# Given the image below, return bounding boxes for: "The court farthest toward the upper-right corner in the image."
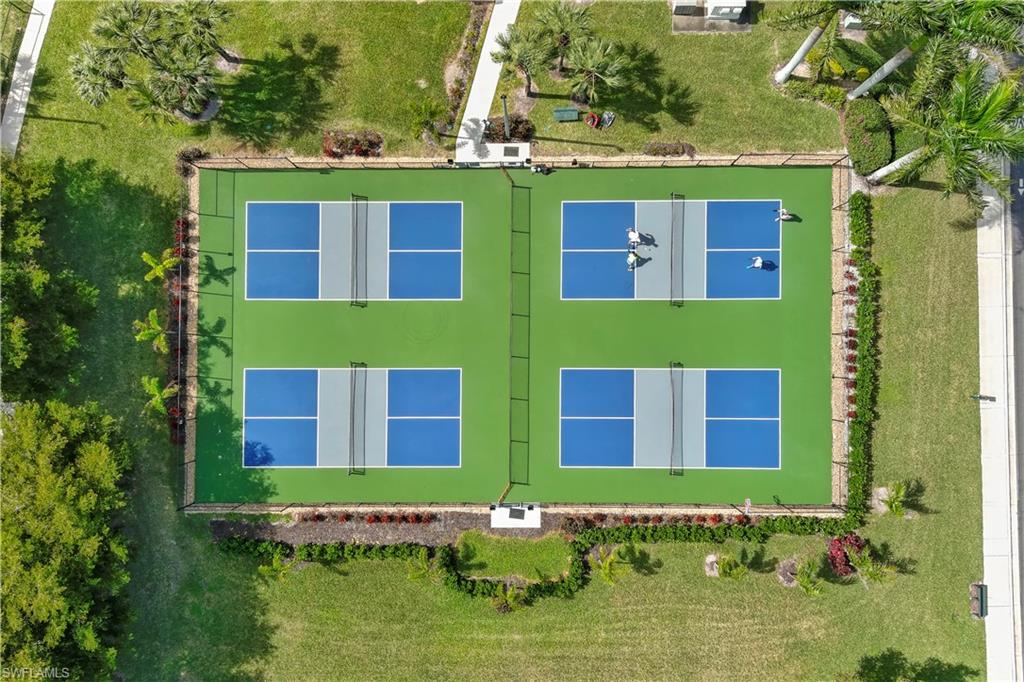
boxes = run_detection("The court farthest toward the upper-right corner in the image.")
[561,200,781,300]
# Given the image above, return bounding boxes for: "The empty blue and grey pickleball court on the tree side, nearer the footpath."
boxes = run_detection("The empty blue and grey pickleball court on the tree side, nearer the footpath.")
[246,201,463,300]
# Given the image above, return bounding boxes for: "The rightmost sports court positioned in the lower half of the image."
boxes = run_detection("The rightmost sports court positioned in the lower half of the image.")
[560,368,781,469]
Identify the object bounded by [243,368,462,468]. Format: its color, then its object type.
blue sports court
